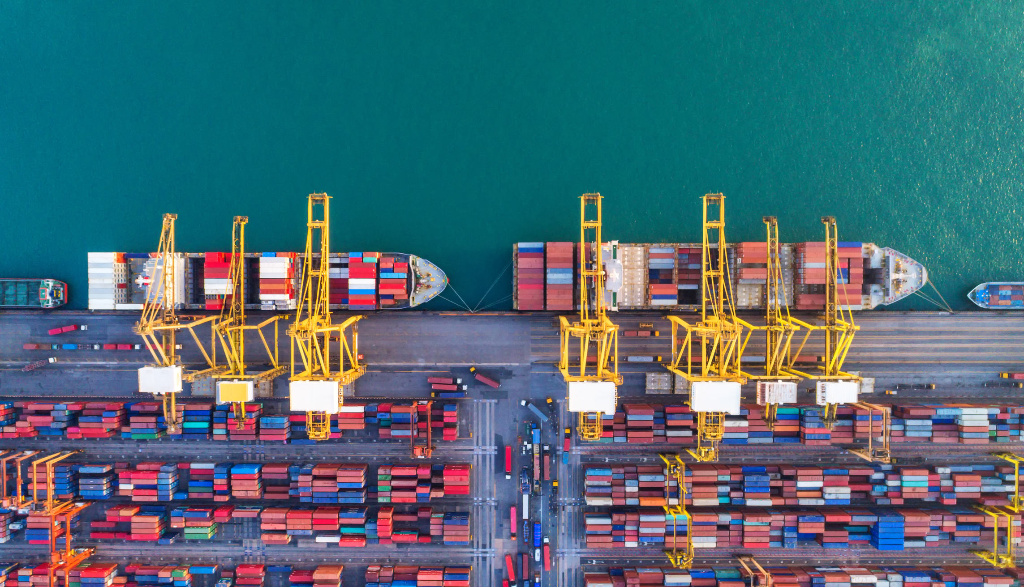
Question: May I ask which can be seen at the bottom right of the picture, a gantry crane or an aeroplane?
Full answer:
Looking at the bottom right of the picture, you will find a gantry crane.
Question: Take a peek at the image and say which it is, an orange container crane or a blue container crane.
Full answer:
This aerial view contains an orange container crane.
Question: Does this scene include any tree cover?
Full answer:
No, tree cover can't be seen anywhere here.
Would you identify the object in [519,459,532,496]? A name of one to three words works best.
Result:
vehicle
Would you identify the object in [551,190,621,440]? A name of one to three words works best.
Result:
container crane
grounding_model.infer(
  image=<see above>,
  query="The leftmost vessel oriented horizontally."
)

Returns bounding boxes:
[0,279,72,307]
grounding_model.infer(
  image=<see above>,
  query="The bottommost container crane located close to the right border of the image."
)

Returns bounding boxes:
[962,502,1013,569]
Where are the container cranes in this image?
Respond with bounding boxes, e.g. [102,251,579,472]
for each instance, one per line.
[654,450,686,514]
[50,500,98,567]
[551,190,621,440]
[724,215,803,432]
[660,503,692,570]
[661,188,745,440]
[779,215,862,432]
[32,448,81,514]
[134,213,229,435]
[0,448,52,513]
[962,502,1013,569]
[209,215,295,433]
[285,187,370,440]
[49,552,97,587]
[410,398,438,463]
[844,398,889,459]
[684,413,718,463]
[984,450,1024,514]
